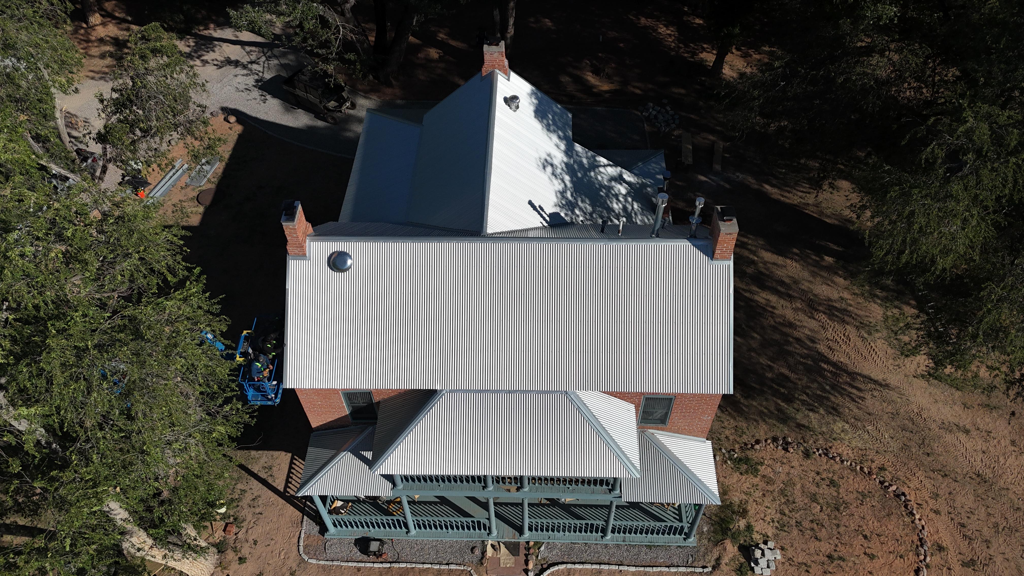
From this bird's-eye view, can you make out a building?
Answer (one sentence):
Yes, the image includes a building.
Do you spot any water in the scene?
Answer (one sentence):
No, there's no water in this view.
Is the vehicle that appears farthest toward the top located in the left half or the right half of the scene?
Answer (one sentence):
The vehicle that appears farthest toward the top is on the left side of the image.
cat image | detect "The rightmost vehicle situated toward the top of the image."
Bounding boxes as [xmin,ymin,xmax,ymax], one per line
[283,65,353,127]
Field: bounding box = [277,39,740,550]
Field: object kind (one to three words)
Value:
house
